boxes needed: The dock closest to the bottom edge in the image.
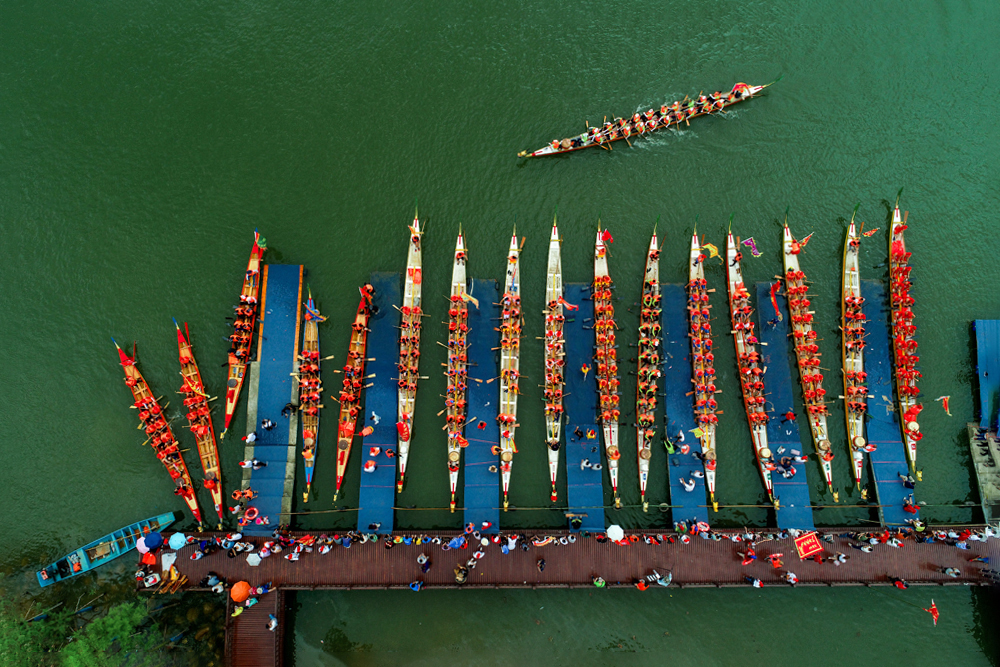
[126,532,1000,667]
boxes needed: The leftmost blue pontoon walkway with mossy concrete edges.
[237,265,306,534]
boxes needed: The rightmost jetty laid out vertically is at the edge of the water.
[861,279,917,534]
